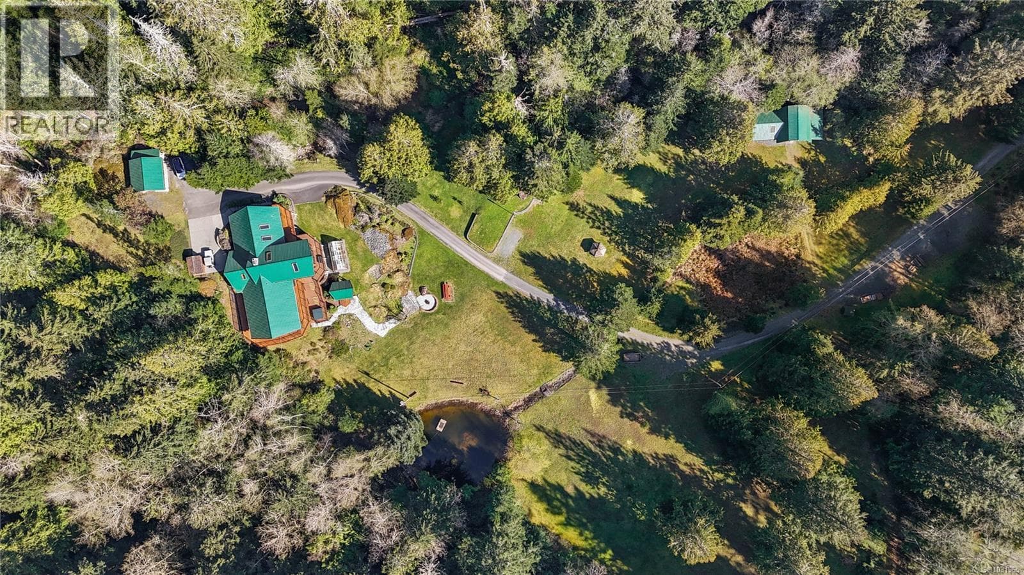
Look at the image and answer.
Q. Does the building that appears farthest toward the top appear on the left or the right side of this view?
right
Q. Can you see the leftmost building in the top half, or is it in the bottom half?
top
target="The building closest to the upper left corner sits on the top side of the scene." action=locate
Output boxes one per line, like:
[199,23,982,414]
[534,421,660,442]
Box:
[129,148,170,191]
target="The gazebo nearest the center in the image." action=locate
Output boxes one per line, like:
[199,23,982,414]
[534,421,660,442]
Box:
[590,241,608,258]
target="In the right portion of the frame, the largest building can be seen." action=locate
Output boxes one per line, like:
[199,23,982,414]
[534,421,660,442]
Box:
[749,105,823,143]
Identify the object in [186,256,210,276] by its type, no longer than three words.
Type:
shed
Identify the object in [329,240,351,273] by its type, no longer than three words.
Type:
greenhouse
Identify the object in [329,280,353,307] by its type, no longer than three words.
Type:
shed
